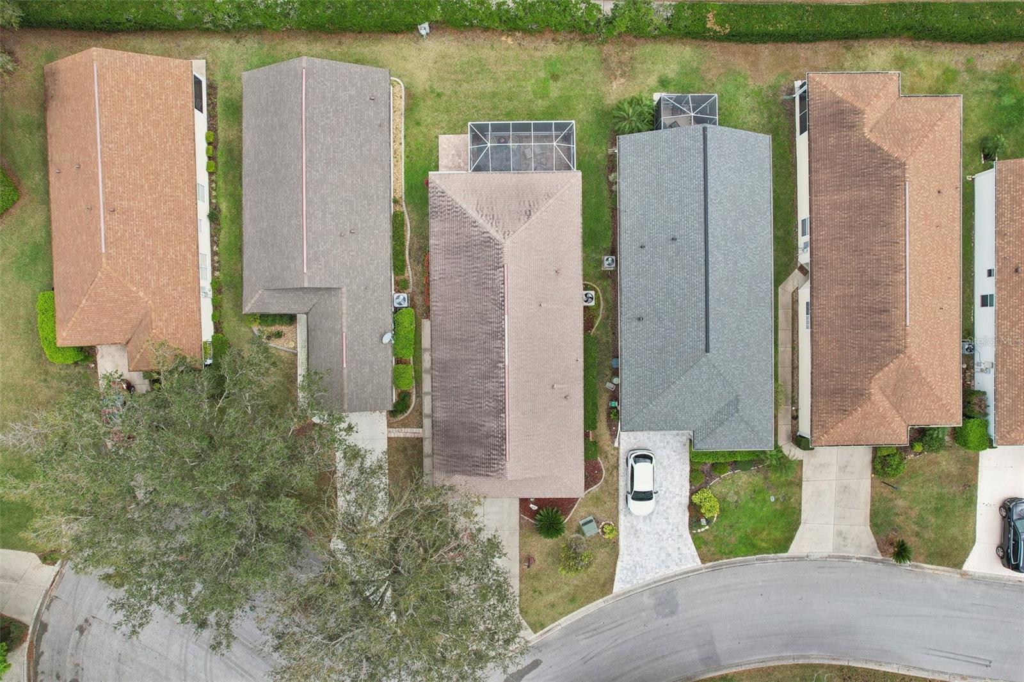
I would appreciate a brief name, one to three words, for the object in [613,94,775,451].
house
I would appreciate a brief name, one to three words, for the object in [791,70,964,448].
house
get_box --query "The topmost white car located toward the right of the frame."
[625,452,658,517]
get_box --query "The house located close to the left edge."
[45,48,213,372]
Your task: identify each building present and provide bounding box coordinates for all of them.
[243,56,394,411]
[45,48,213,372]
[613,94,775,451]
[969,158,1024,447]
[428,120,585,498]
[791,70,964,448]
